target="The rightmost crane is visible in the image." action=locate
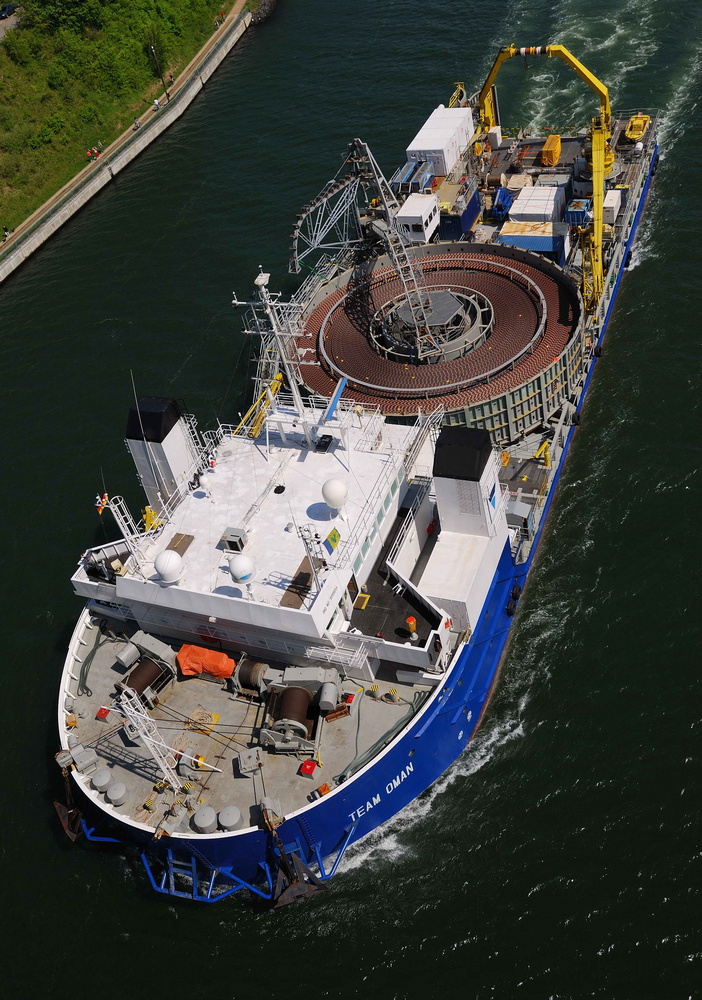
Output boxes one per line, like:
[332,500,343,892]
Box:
[581,106,621,315]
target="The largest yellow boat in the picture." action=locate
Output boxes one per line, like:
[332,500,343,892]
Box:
[626,109,652,141]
